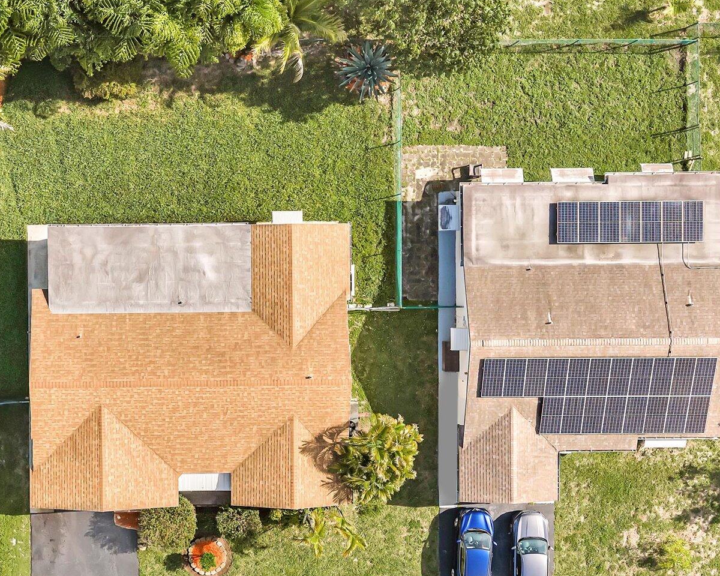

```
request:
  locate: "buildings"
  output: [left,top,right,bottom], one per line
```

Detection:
[438,163,720,505]
[29,210,355,511]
